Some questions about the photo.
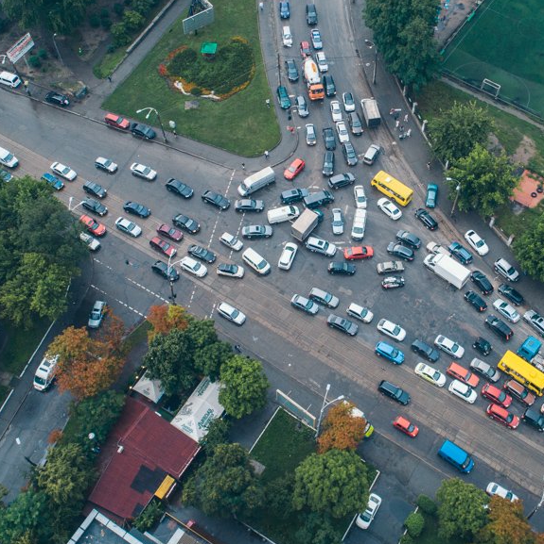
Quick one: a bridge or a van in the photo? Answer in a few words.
van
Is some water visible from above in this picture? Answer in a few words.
No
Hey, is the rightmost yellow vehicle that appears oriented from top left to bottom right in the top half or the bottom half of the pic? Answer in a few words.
bottom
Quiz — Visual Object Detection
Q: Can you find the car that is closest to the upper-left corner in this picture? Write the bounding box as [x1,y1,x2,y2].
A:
[0,71,23,89]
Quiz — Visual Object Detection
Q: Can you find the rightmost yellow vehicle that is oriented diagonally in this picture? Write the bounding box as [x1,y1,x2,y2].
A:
[497,351,544,399]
